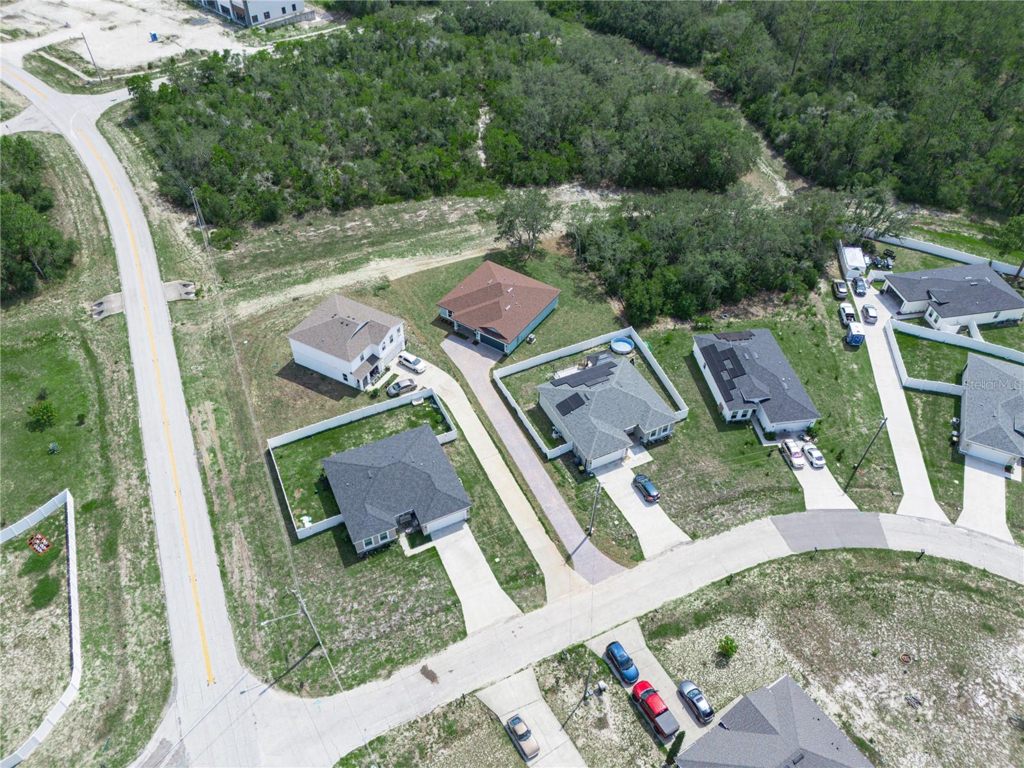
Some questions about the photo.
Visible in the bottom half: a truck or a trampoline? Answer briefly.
truck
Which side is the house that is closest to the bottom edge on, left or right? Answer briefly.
right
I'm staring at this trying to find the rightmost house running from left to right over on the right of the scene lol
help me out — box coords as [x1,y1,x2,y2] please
[881,264,1024,330]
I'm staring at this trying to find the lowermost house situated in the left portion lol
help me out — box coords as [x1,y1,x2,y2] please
[323,424,472,552]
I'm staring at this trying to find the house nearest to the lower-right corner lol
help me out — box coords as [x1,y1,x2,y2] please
[675,670,875,768]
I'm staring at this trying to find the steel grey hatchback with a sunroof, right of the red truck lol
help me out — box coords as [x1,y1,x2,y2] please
[676,677,717,727]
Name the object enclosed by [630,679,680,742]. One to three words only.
truck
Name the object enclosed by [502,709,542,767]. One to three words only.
car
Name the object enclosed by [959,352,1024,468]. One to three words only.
house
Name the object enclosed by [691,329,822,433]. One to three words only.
house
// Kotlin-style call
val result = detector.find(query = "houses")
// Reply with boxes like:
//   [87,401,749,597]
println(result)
[286,295,405,392]
[437,261,563,355]
[323,424,472,552]
[675,670,875,768]
[194,0,303,26]
[691,329,822,433]
[881,264,1024,330]
[959,352,1024,468]
[535,356,679,471]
